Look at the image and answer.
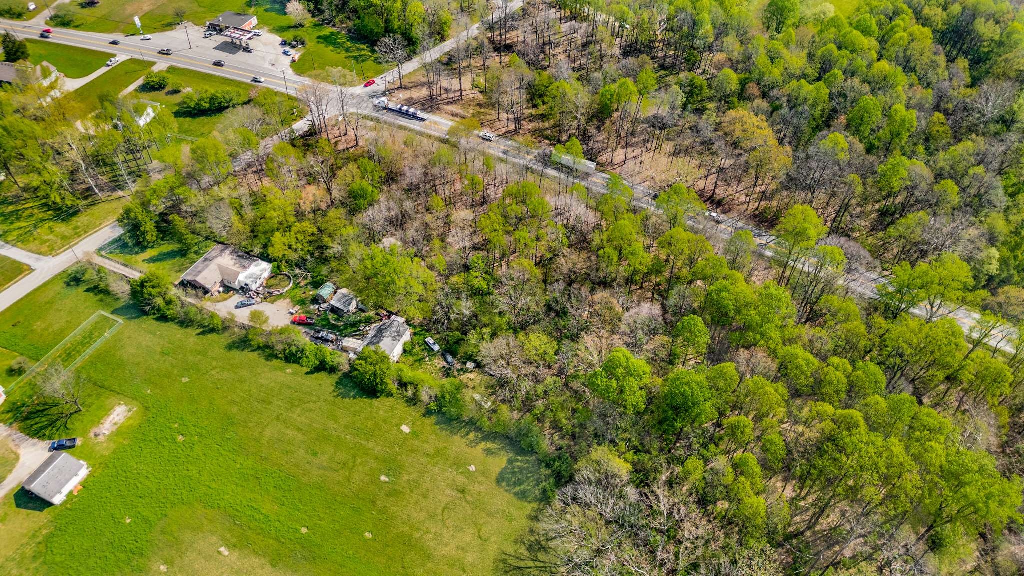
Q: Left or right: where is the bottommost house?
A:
left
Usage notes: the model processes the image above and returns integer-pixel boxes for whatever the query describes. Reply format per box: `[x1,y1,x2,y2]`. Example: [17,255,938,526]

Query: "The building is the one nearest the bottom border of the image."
[20,450,93,507]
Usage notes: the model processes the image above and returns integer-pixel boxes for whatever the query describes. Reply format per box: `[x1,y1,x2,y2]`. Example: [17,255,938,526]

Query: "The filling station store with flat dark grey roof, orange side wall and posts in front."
[210,11,255,33]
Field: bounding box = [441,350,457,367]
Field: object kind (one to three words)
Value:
car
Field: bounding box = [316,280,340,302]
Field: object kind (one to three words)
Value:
shed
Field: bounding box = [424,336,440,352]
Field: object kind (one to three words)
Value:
car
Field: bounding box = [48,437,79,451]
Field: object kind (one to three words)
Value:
vehicle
